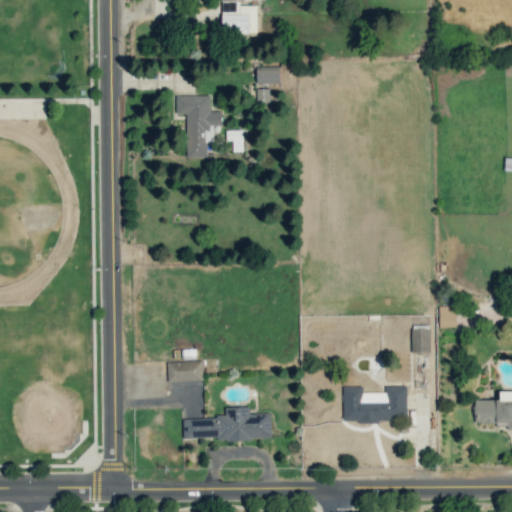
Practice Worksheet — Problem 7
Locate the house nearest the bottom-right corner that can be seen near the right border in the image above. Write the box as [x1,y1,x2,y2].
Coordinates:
[476,392,512,427]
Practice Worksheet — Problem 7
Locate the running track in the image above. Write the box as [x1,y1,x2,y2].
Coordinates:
[0,119,80,306]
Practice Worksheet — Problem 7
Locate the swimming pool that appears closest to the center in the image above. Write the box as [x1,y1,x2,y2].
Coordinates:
[224,386,250,404]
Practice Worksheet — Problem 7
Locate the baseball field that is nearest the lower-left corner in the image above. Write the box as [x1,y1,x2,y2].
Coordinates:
[12,380,89,458]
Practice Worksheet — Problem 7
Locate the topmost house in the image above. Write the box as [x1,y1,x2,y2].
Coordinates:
[221,0,262,34]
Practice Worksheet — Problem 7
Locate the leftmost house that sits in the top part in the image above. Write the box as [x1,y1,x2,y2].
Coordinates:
[176,96,222,158]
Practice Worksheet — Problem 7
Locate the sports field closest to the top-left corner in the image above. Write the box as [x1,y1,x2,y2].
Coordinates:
[0,138,62,288]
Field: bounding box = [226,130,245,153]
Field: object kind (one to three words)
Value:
shed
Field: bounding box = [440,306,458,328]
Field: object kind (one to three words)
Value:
shed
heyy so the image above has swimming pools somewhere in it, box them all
[500,361,512,388]
[224,386,250,404]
